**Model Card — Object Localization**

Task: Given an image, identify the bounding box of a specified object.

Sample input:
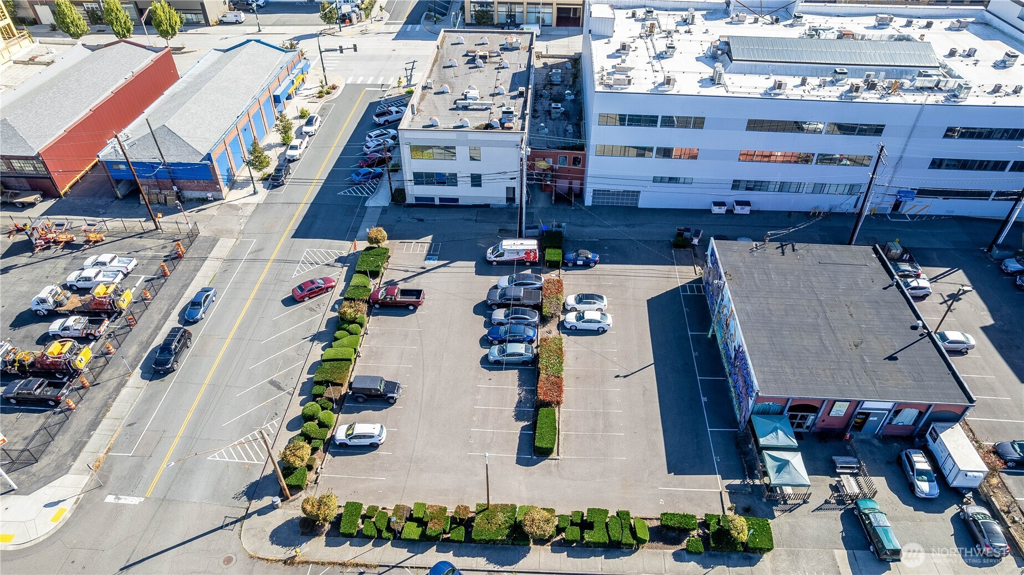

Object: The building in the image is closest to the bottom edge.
[702,236,982,444]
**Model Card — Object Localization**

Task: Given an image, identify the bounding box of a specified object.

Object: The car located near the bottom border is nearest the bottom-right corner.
[958,503,1014,564]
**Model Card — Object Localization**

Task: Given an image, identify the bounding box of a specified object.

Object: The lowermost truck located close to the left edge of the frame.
[2,378,76,406]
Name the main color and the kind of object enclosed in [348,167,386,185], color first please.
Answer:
blue car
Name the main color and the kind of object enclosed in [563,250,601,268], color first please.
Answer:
blue car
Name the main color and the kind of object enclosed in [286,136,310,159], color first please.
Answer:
white truck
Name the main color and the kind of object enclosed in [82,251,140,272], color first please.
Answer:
white truck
